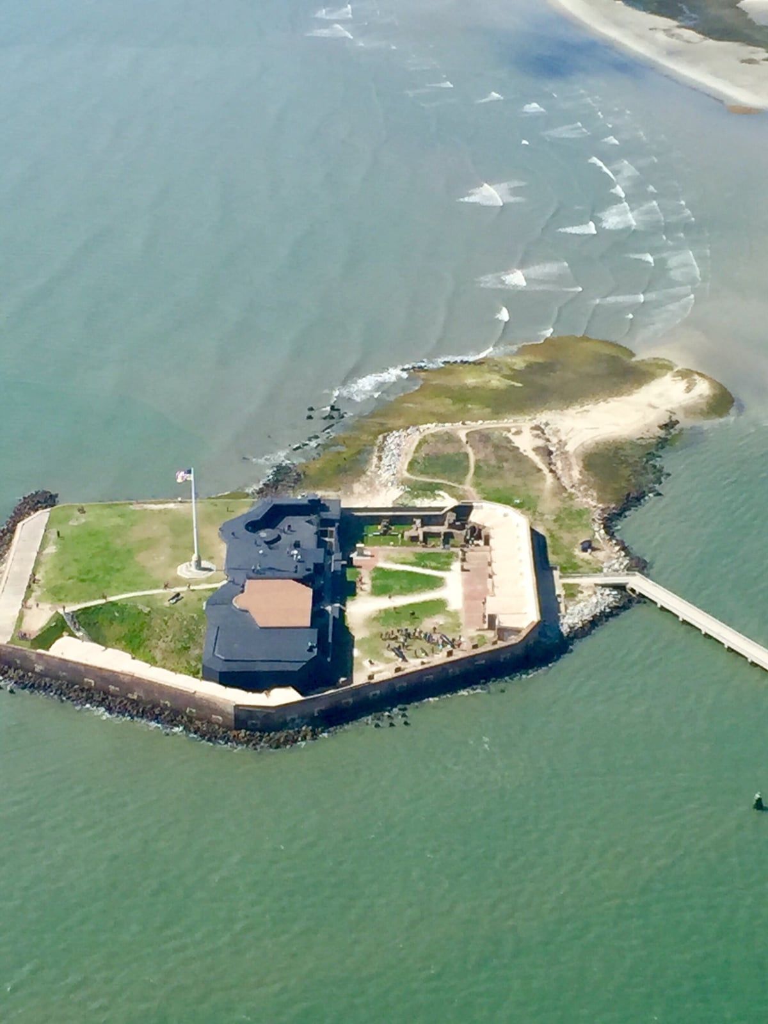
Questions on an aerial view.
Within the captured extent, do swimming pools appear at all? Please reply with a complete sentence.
No, the photo shows no swimming pool.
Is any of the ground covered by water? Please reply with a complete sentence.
Yes, water shows up in the scene.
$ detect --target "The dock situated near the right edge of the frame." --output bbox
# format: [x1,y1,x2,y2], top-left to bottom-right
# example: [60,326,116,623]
[560,573,768,683]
